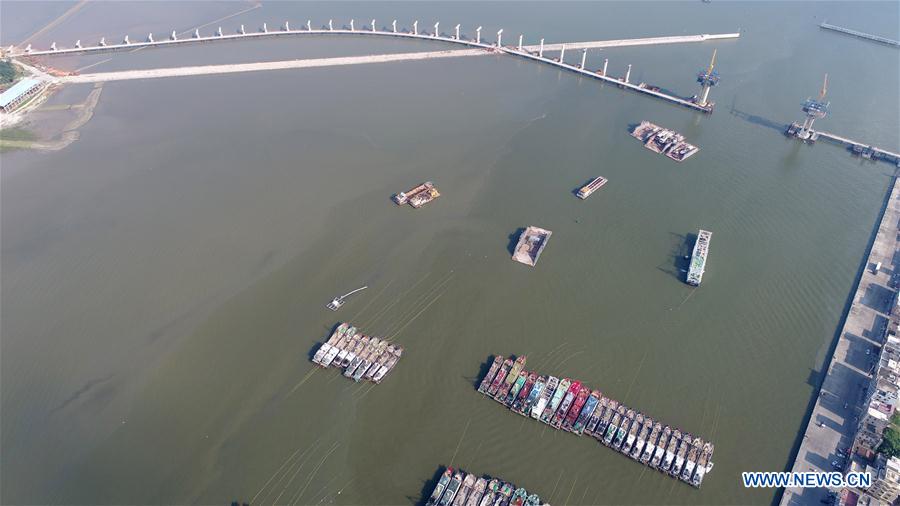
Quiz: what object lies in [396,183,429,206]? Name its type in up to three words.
ship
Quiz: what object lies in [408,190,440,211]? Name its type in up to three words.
ship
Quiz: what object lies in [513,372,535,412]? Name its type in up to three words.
boat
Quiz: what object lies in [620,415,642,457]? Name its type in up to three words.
boat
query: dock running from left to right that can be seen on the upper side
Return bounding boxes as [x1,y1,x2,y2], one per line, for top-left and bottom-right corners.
[818,24,900,48]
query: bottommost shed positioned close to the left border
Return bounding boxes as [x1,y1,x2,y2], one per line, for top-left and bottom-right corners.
[0,73,43,111]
